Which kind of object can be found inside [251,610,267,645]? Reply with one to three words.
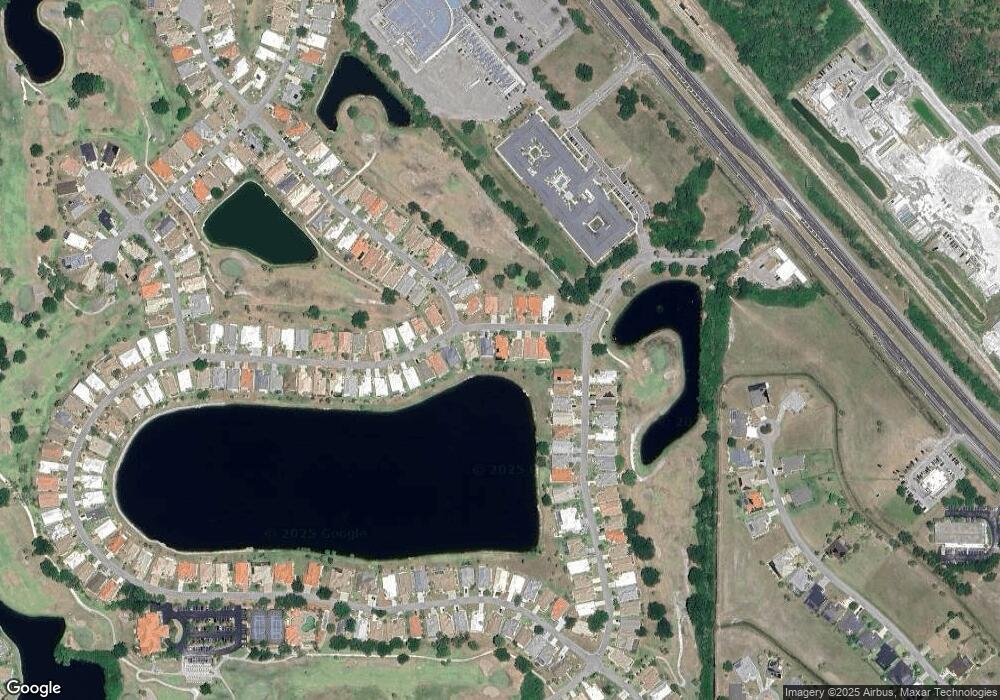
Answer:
tennis court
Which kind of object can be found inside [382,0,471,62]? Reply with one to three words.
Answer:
building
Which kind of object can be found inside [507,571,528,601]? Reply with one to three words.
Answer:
house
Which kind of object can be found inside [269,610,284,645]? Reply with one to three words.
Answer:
tennis court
